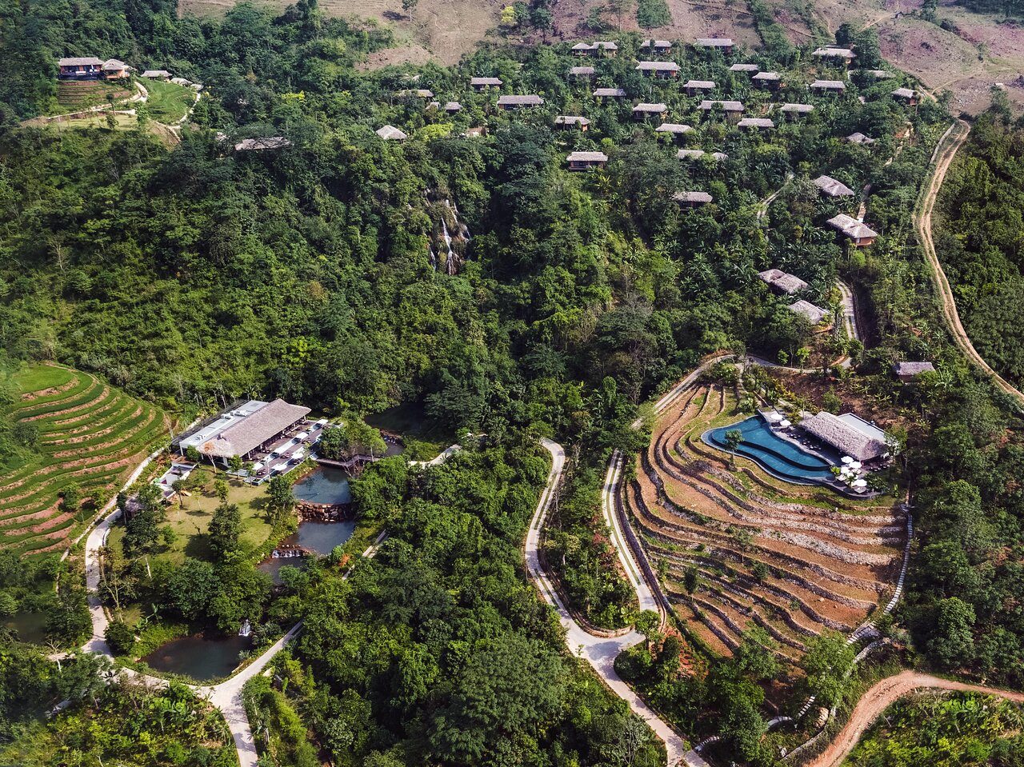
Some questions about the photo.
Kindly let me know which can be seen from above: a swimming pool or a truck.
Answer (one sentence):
Visible in the photo is a swimming pool.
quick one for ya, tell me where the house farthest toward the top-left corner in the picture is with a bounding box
[52,55,108,85]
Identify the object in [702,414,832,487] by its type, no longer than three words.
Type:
swimming pool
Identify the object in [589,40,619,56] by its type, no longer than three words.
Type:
house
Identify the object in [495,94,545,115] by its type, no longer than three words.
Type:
house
